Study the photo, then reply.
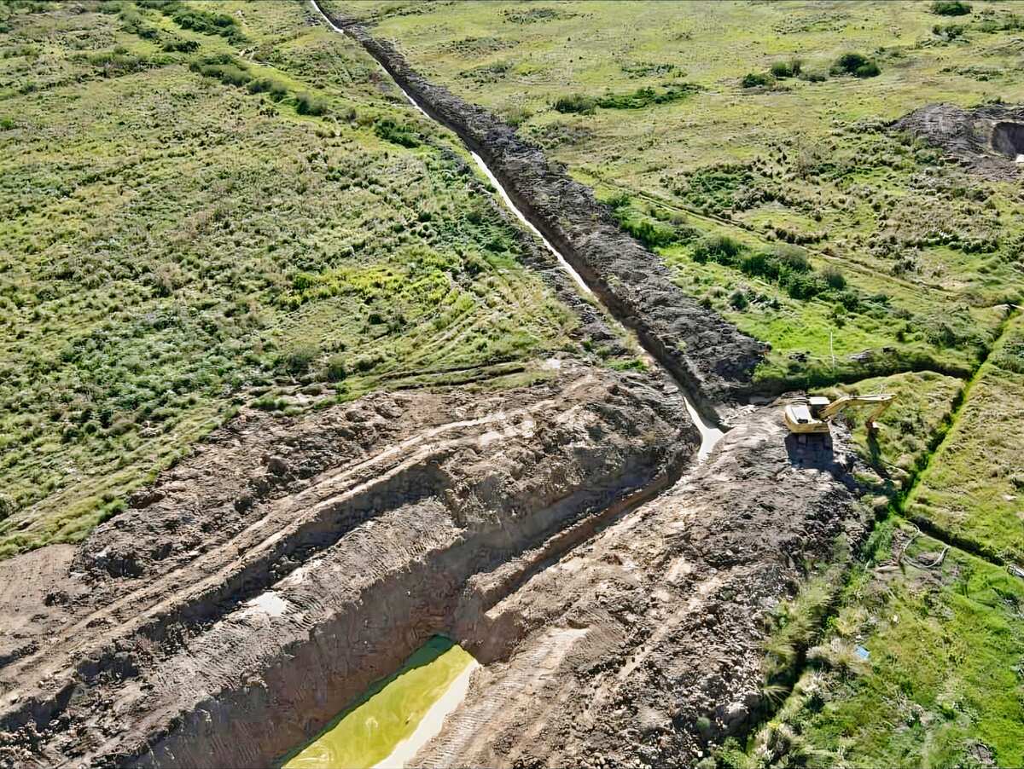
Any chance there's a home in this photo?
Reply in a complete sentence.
No, no home is visible in the view.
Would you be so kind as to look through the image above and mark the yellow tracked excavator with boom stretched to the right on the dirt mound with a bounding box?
[784,400,893,442]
